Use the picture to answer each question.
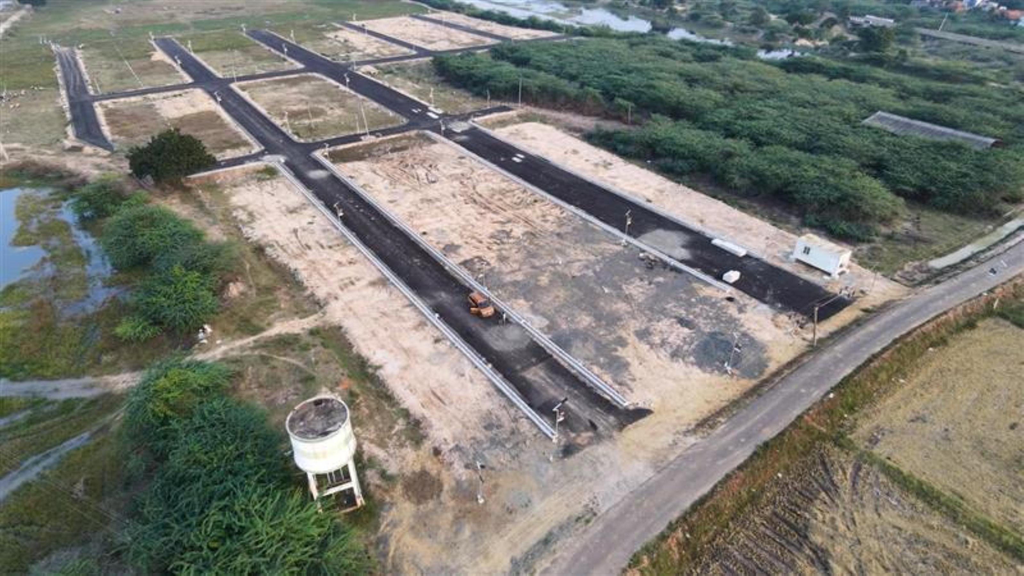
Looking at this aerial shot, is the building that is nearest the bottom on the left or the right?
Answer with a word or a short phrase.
right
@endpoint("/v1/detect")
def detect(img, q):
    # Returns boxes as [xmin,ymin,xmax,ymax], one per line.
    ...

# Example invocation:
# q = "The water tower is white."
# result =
[289,397,360,512]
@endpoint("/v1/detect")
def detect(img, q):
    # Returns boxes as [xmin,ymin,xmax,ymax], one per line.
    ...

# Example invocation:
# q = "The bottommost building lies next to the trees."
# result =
[795,232,855,279]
